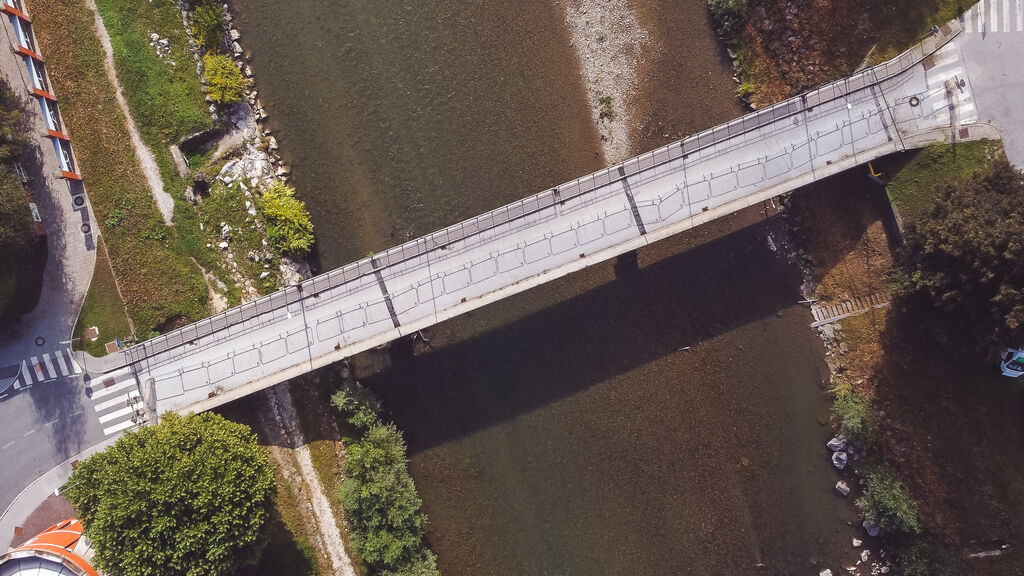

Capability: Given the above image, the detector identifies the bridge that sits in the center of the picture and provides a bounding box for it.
[110,63,908,431]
